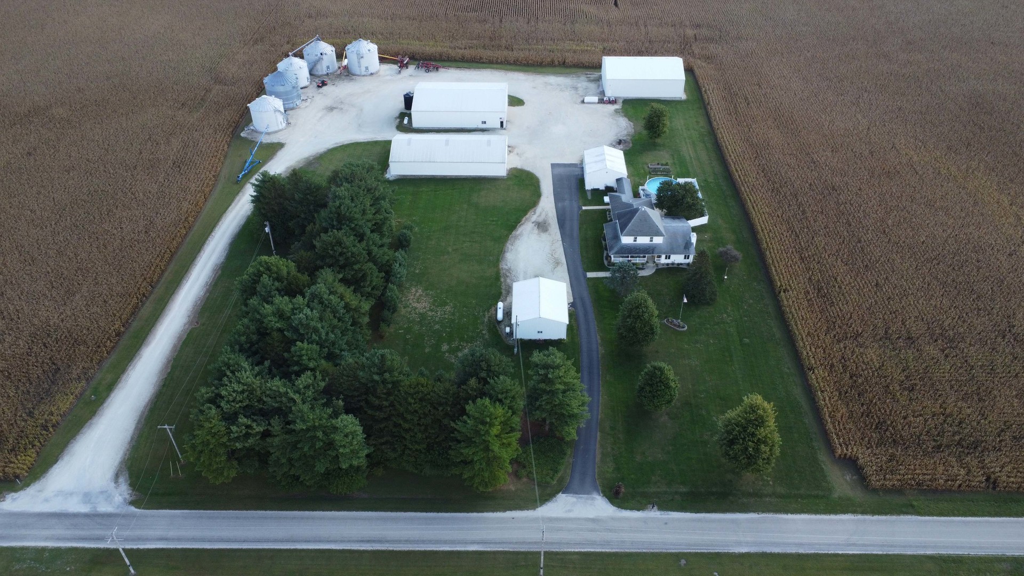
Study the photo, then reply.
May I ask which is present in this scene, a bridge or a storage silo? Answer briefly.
storage silo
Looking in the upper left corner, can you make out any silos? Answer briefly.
Yes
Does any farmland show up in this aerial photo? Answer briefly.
Yes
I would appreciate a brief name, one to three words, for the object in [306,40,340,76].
silo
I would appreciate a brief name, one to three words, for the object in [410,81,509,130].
shed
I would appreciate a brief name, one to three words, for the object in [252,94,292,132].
silo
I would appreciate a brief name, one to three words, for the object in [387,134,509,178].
shed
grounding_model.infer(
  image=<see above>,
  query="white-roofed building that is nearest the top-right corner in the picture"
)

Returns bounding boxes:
[601,56,687,100]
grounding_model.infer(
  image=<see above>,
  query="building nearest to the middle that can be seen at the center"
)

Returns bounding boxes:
[510,275,569,342]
